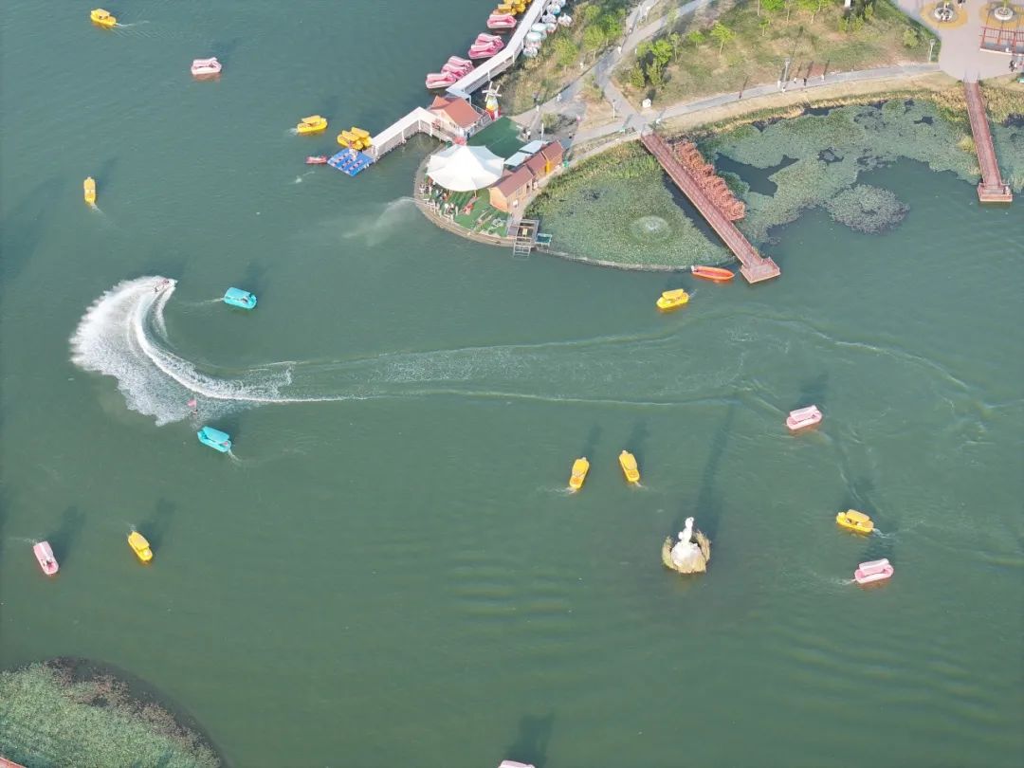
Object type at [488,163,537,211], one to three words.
building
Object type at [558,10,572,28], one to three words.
boat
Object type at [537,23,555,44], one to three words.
boat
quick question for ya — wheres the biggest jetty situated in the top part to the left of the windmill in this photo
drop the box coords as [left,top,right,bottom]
[371,107,444,165]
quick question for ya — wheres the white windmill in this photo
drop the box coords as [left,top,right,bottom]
[481,92,505,126]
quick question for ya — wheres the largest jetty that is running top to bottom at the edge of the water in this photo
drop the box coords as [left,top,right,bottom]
[964,80,1014,209]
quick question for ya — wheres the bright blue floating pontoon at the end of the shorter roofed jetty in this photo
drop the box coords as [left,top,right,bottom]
[328,149,374,178]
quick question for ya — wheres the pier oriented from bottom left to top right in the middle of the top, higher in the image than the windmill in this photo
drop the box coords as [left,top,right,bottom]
[447,0,557,98]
